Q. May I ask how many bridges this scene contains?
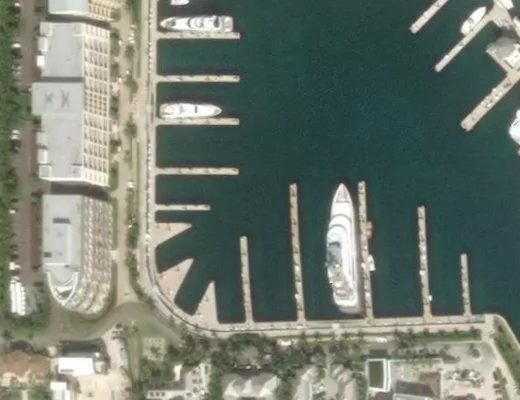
none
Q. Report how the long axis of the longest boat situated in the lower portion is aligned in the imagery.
from top to bottom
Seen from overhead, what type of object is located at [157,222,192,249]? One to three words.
pier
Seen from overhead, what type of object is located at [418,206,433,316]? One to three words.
pier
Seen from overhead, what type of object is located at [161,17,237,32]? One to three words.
boat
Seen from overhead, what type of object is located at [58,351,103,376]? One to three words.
house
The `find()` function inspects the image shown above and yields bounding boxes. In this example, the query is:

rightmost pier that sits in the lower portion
[461,253,474,315]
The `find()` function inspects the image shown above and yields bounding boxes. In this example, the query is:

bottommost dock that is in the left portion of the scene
[190,281,219,323]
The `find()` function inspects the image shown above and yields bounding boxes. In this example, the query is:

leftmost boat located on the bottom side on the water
[330,183,360,312]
